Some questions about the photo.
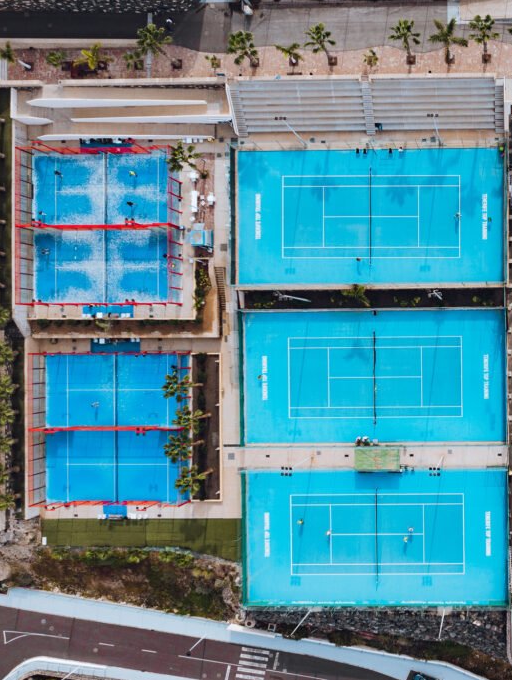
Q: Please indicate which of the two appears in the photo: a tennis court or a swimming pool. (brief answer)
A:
tennis court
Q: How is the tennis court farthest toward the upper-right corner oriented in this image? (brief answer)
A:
from left to right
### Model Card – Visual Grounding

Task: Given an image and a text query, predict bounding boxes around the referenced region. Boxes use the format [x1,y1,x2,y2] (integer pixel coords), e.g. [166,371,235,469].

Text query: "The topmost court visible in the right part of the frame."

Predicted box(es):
[237,149,504,286]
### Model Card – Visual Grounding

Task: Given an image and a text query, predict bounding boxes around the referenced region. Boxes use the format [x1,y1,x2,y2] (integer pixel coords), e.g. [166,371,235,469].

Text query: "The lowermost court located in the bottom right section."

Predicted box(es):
[245,470,507,605]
